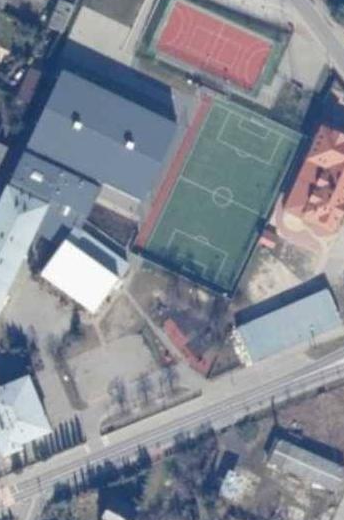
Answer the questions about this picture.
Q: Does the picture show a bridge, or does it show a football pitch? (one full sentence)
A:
Of the two, only a football pitch appears.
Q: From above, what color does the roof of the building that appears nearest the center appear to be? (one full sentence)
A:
From above, the roof of the building that appears nearest the center looks white.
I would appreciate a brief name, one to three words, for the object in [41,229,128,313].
building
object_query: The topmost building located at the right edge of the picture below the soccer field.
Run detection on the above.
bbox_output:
[236,289,340,365]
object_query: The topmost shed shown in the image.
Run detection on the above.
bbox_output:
[47,1,74,32]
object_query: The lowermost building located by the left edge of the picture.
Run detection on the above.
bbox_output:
[0,376,52,458]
